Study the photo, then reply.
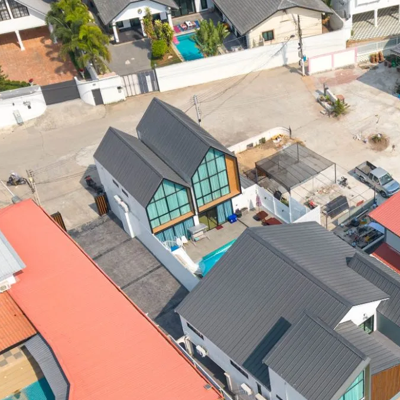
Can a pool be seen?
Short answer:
Yes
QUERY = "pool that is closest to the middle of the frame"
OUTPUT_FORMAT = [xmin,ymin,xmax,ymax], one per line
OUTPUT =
[195,219,264,280]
